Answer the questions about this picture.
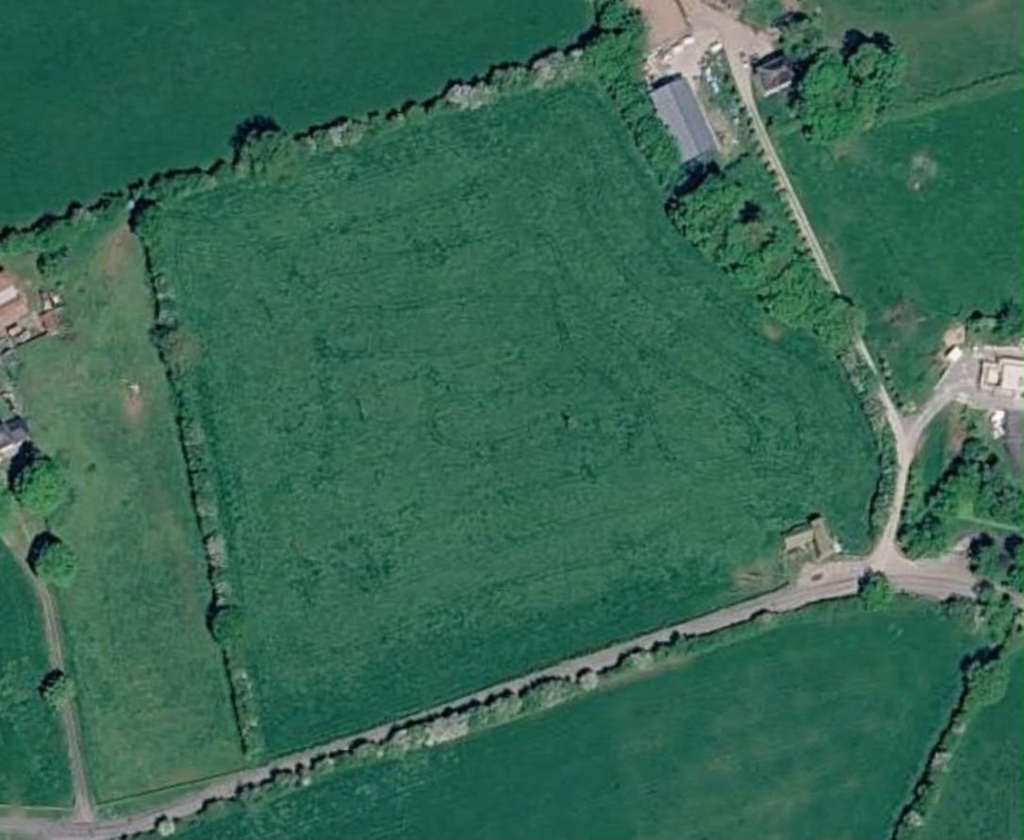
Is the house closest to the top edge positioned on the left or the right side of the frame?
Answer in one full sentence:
It is on the right.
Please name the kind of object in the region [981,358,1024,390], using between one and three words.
house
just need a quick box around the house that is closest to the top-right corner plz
[755,57,794,93]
